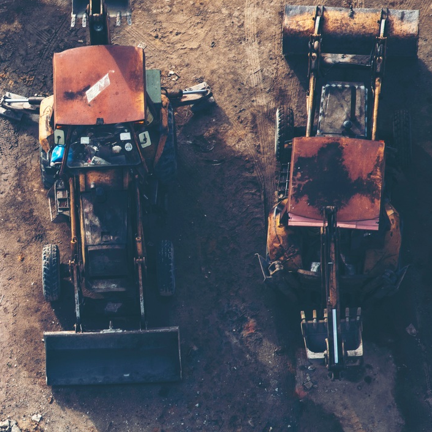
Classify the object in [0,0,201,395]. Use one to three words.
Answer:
work vehicle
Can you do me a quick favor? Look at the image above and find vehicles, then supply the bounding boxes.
[252,8,420,387]
[0,0,201,395]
